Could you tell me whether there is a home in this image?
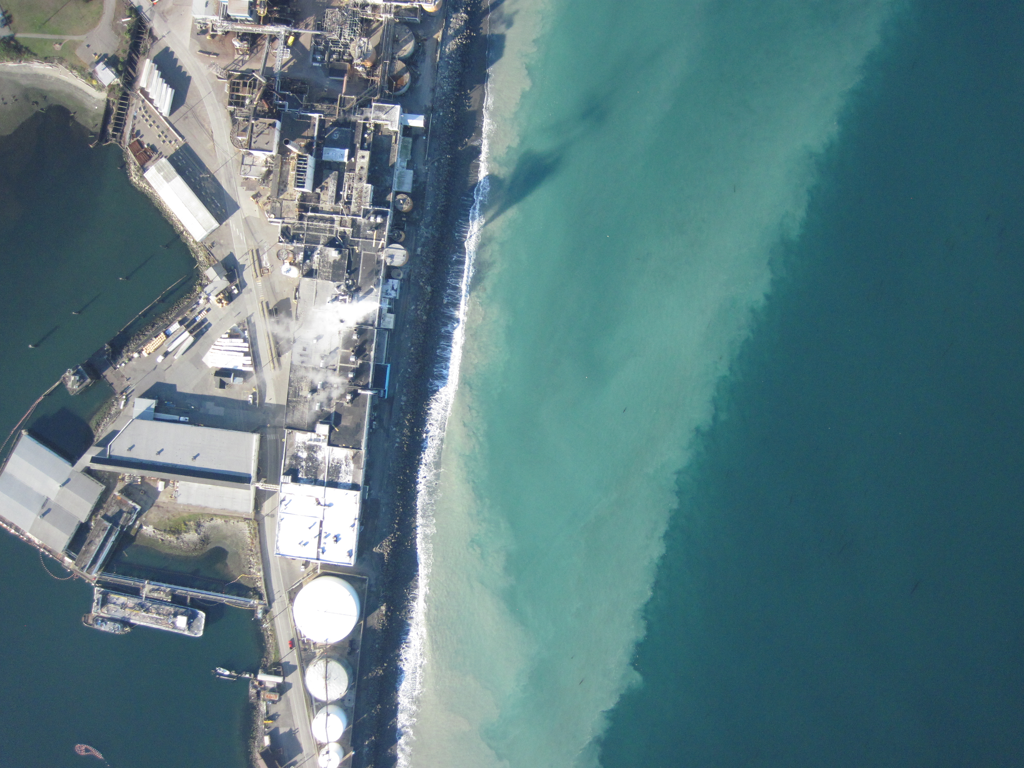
Yes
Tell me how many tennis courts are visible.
zero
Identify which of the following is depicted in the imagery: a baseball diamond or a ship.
ship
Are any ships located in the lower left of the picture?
Yes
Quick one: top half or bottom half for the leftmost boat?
bottom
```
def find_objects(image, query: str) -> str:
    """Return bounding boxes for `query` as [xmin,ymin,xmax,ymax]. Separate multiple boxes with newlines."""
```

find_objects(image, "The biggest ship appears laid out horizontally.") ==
[92,588,206,637]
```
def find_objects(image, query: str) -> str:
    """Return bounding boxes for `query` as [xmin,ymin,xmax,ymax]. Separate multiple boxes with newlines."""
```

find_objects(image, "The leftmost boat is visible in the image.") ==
[82,613,132,635]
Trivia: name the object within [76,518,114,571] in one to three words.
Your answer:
shed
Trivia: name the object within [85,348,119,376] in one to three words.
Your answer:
pier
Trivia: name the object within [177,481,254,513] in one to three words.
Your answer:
building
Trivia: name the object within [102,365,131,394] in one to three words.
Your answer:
pier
